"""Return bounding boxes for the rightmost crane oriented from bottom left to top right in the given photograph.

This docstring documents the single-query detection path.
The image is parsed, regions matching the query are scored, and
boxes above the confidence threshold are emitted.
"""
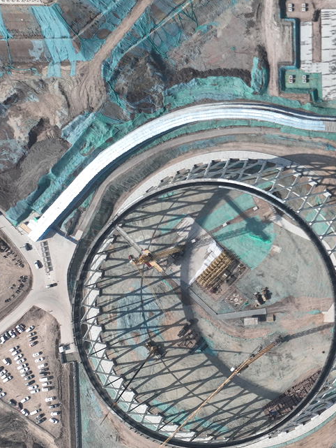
[161,339,270,448]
